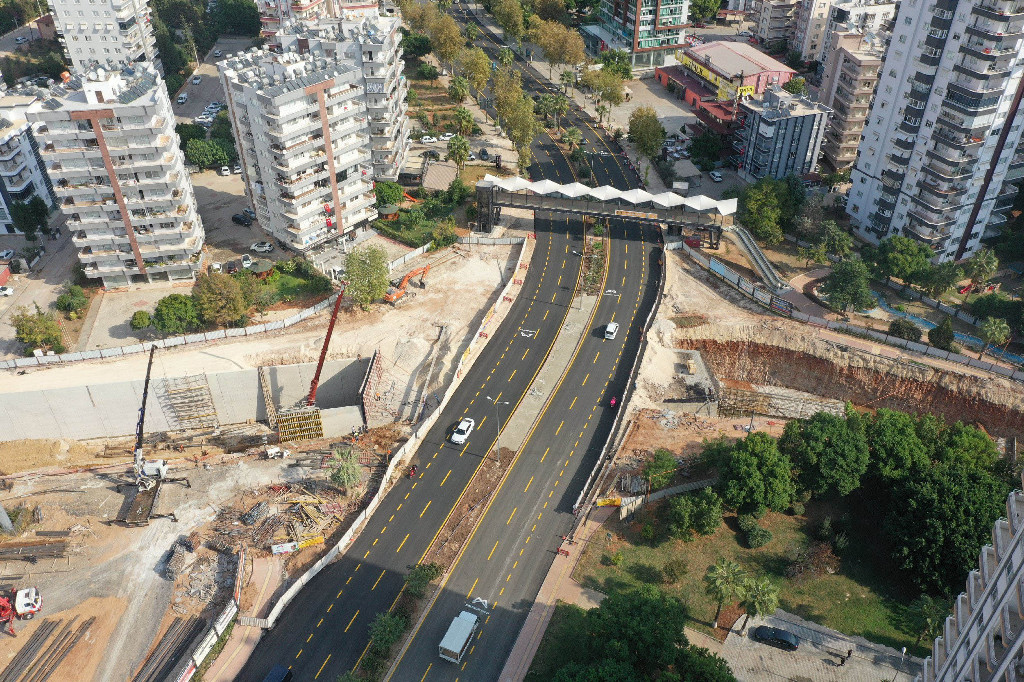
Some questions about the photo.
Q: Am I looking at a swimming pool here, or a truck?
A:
truck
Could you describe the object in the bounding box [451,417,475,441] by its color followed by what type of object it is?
white car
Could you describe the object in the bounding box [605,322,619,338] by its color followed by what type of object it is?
white car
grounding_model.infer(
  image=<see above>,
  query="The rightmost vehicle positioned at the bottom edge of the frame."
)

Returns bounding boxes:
[756,623,802,651]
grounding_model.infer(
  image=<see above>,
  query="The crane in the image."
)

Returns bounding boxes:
[308,278,373,411]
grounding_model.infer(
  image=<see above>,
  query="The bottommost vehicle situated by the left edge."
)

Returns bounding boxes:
[0,583,52,635]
